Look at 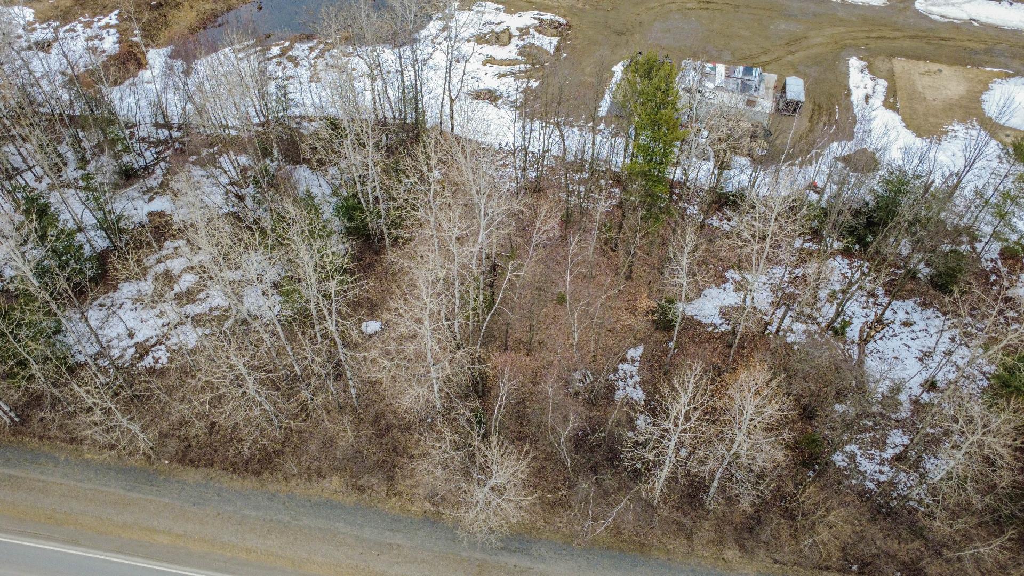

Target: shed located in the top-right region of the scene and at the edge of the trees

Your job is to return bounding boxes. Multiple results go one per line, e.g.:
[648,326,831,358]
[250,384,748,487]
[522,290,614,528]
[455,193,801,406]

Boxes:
[780,77,808,117]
